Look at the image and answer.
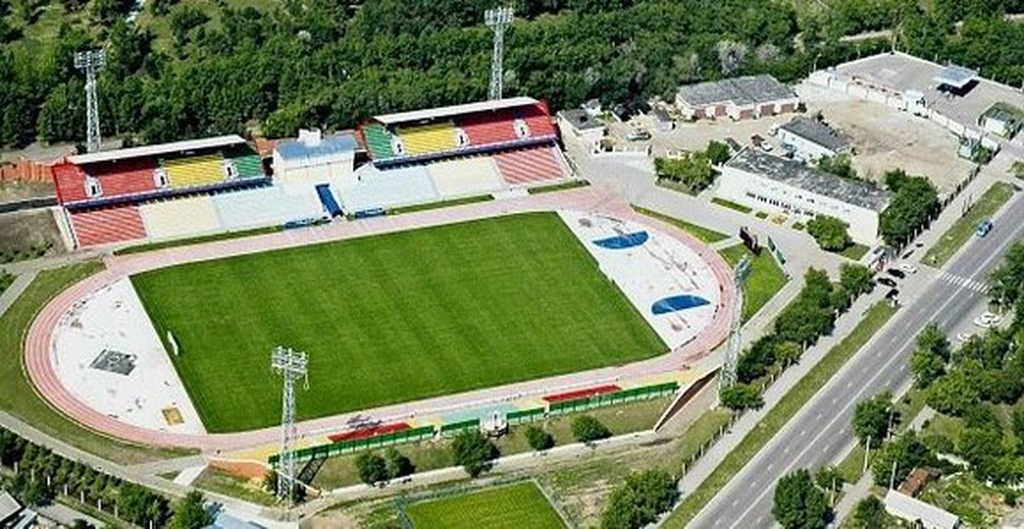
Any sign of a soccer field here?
Yes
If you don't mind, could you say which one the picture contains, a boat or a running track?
running track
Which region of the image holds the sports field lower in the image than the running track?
bottom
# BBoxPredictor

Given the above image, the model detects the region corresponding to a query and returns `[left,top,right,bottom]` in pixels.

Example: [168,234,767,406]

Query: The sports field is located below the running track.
[412,481,568,529]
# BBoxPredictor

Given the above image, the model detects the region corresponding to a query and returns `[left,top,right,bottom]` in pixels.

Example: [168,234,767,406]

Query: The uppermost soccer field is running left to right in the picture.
[130,211,670,432]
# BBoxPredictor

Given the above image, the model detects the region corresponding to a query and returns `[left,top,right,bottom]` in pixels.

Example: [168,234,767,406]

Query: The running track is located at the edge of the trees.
[22,202,745,451]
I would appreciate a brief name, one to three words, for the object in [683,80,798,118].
building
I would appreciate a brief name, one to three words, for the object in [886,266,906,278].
vehicle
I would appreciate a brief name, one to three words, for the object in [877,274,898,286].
vehicle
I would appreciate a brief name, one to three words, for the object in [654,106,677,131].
shed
